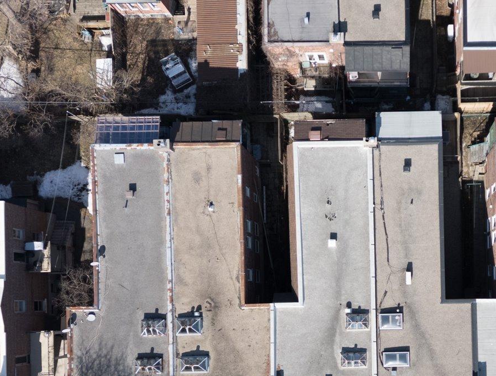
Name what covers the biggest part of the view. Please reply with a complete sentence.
Most of the picture is covered by buildings.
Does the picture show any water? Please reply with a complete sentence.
No, there's no water in this view.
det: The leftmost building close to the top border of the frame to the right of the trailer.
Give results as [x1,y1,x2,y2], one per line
[197,0,256,120]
